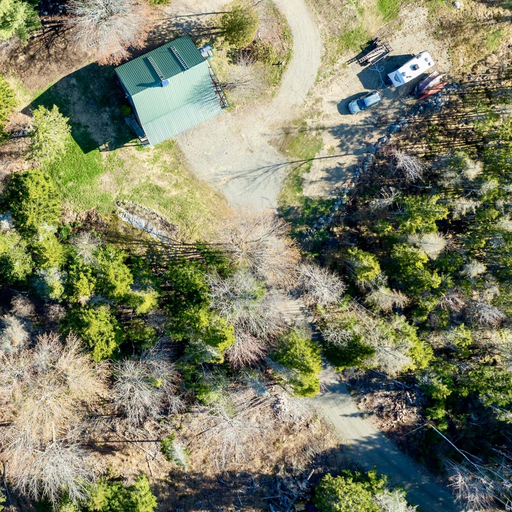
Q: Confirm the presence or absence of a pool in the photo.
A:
No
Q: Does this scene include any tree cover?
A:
Yes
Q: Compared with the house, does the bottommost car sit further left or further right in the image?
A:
to the right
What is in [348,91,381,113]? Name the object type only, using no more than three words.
car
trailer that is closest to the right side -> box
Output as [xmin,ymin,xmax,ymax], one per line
[381,50,435,87]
